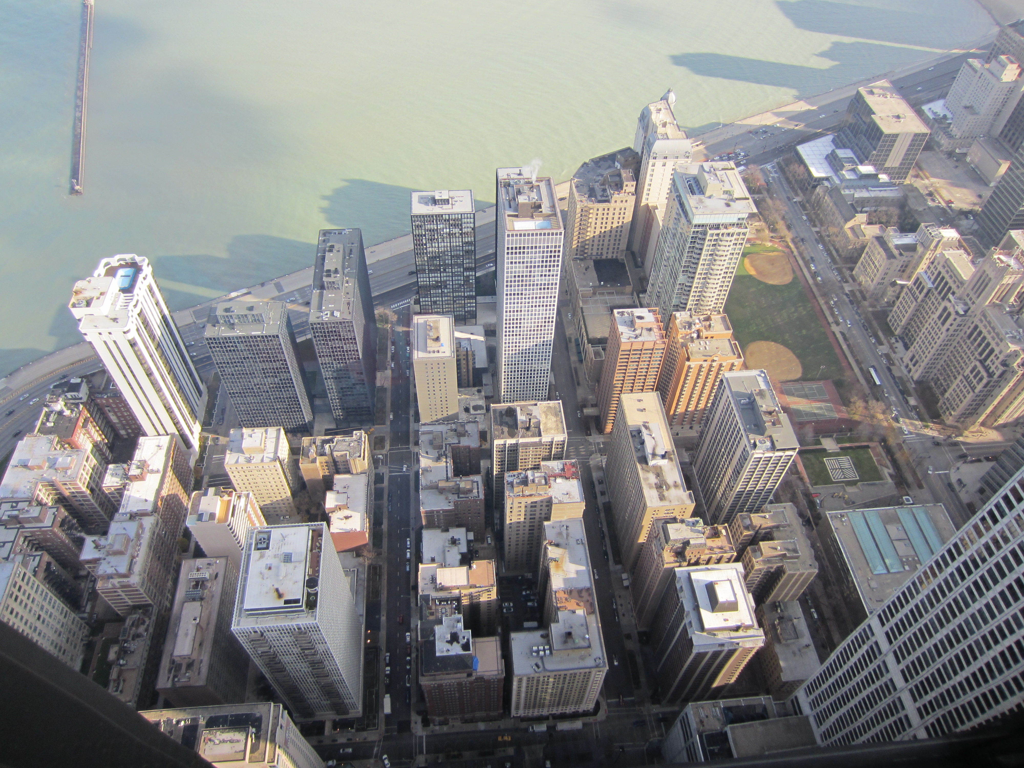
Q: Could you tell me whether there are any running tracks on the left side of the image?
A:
No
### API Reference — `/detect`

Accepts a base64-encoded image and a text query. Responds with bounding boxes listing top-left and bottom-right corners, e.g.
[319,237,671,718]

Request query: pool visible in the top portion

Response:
[507,219,559,231]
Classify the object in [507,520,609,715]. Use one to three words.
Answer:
building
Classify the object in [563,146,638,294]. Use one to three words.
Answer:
building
